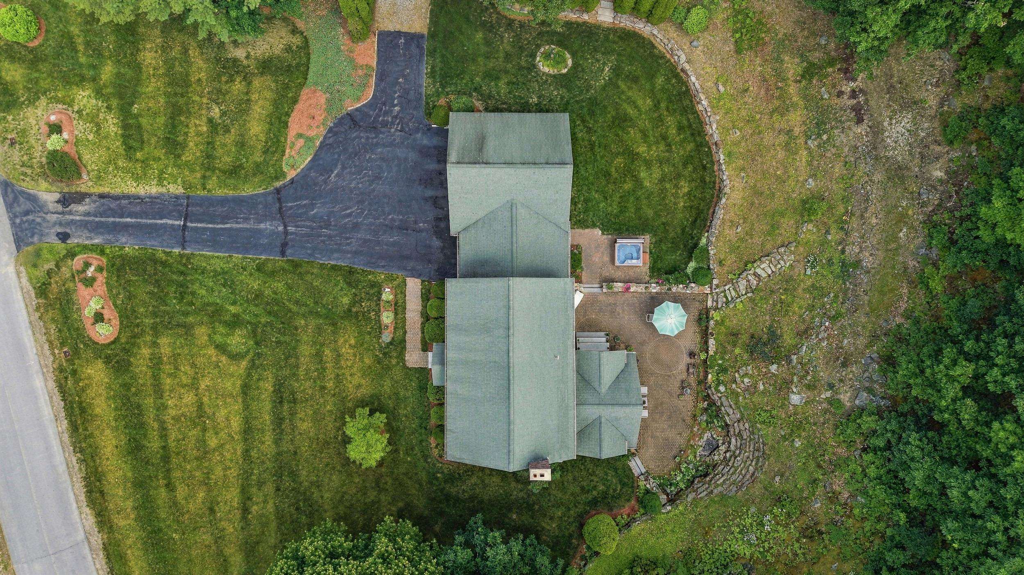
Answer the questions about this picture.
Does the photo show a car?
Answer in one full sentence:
No, I can see no car in this picture.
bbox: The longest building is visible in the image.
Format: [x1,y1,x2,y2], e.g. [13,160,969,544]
[431,110,642,482]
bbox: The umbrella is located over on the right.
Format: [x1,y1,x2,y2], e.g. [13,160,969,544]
[653,301,686,335]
